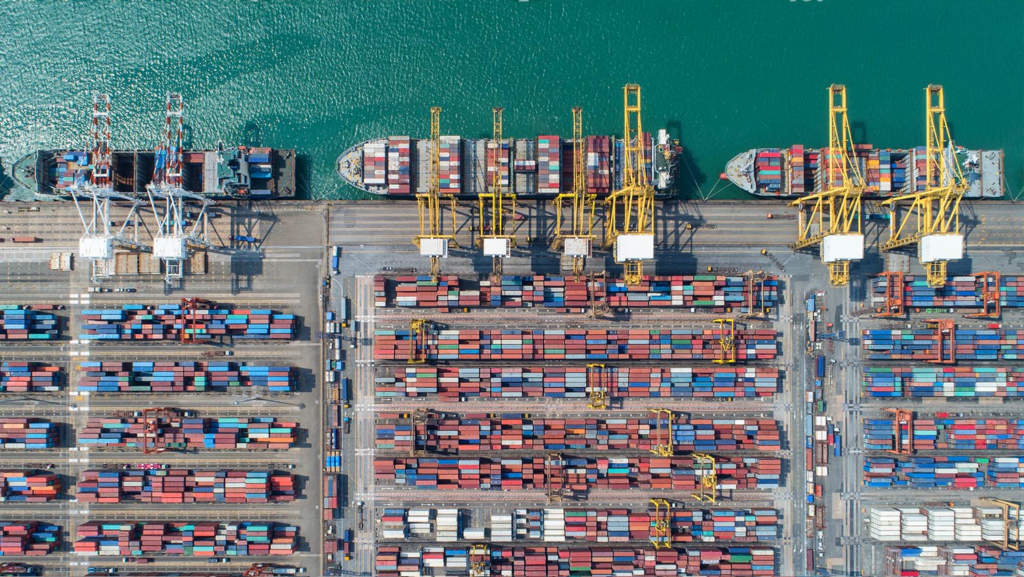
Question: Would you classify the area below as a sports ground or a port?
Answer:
port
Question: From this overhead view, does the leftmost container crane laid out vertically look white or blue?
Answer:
white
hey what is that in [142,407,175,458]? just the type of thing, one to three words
container crane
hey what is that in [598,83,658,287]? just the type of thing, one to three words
container crane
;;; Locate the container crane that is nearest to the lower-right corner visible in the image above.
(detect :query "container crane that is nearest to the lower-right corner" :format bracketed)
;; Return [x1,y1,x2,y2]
[982,497,1021,552]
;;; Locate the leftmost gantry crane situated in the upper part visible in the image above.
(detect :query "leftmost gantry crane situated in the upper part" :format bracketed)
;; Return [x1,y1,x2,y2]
[67,92,155,282]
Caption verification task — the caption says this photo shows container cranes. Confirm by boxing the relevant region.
[878,408,912,458]
[67,92,155,282]
[415,106,462,280]
[409,408,432,458]
[690,451,716,503]
[408,318,430,364]
[918,318,955,365]
[709,318,736,364]
[476,106,520,280]
[142,407,175,458]
[877,83,974,287]
[180,297,211,345]
[544,451,565,503]
[598,83,658,287]
[585,362,607,410]
[649,408,673,458]
[585,270,606,318]
[982,497,1021,552]
[145,92,223,282]
[737,270,765,318]
[787,83,871,287]
[869,270,903,318]
[962,270,1000,318]
[551,106,598,280]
